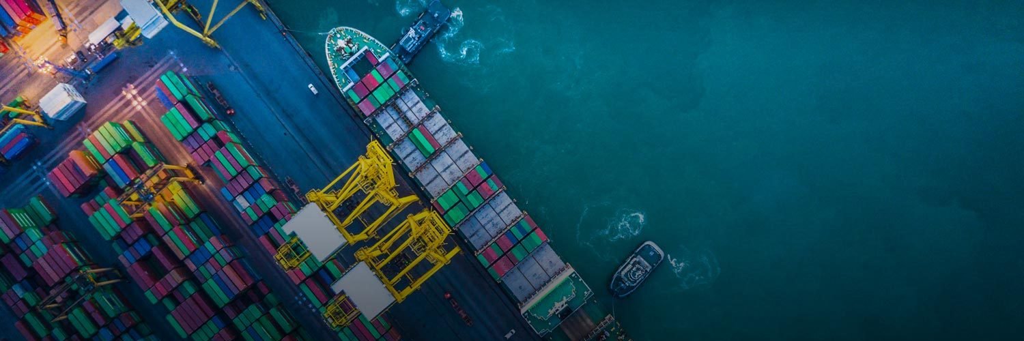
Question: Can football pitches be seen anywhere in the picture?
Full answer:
No, the frame has no football pitch in it.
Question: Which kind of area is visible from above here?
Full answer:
The area seen from above is a port.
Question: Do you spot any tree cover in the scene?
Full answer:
No, there is no tree cover in the image.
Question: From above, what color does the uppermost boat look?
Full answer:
In this view, the uppermost boat is blue.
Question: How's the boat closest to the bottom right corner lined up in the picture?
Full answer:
In this picture, the boat closest to the bottom right corner is oriented at an angle.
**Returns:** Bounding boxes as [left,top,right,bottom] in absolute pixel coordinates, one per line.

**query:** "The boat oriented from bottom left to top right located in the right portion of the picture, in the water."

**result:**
[612,237,666,295]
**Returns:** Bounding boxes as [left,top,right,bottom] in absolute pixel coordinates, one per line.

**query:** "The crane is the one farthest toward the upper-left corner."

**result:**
[0,106,52,141]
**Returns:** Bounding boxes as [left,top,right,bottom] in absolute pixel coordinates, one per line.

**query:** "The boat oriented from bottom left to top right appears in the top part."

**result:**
[392,0,451,60]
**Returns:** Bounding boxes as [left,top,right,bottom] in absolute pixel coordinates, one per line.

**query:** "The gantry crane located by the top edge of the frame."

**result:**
[116,0,264,49]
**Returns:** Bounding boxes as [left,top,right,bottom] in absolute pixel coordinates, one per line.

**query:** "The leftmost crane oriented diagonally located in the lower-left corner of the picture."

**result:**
[31,262,125,329]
